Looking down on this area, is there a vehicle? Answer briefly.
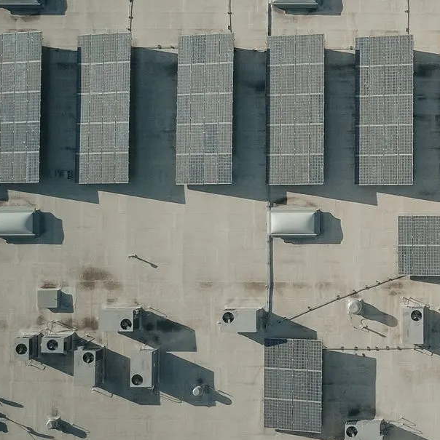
No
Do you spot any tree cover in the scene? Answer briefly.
No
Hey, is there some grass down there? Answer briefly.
No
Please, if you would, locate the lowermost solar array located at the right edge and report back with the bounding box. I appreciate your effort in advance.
[398,216,440,276]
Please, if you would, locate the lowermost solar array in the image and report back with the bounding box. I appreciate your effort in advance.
[264,339,322,433]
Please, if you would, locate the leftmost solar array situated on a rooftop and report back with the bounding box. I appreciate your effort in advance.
[0,32,43,184]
